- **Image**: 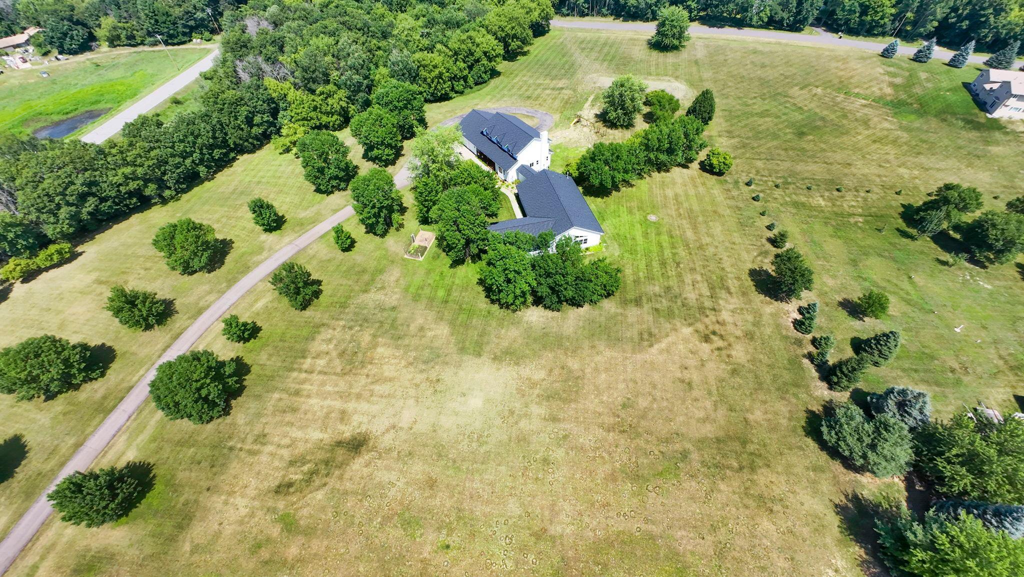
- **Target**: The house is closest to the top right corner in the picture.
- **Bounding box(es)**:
[971,71,1024,121]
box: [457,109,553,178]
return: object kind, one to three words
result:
house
